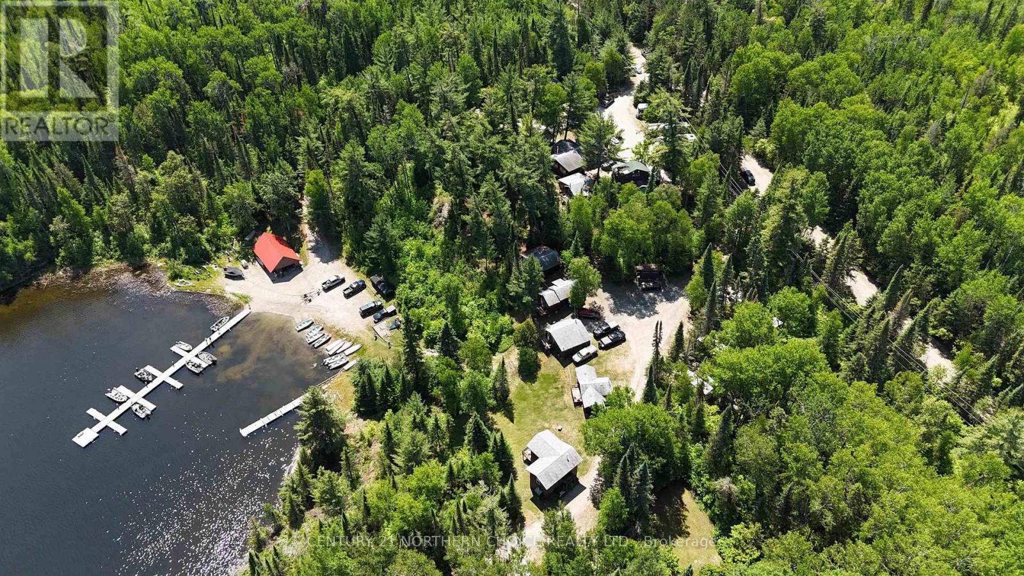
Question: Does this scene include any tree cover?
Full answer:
Yes, there's tree cover in this view.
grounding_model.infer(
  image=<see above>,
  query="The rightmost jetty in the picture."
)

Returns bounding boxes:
[238,392,310,437]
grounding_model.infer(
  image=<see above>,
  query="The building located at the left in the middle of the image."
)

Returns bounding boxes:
[252,233,301,275]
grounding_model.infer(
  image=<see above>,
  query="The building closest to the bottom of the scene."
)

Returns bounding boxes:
[522,432,580,501]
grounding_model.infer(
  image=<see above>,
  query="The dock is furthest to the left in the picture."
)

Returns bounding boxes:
[67,305,251,452]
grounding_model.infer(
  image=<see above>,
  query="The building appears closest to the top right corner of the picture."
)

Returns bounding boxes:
[617,161,651,186]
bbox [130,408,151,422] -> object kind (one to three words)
boat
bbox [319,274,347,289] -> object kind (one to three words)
vehicle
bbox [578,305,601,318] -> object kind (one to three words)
vehicle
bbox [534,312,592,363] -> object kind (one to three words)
building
